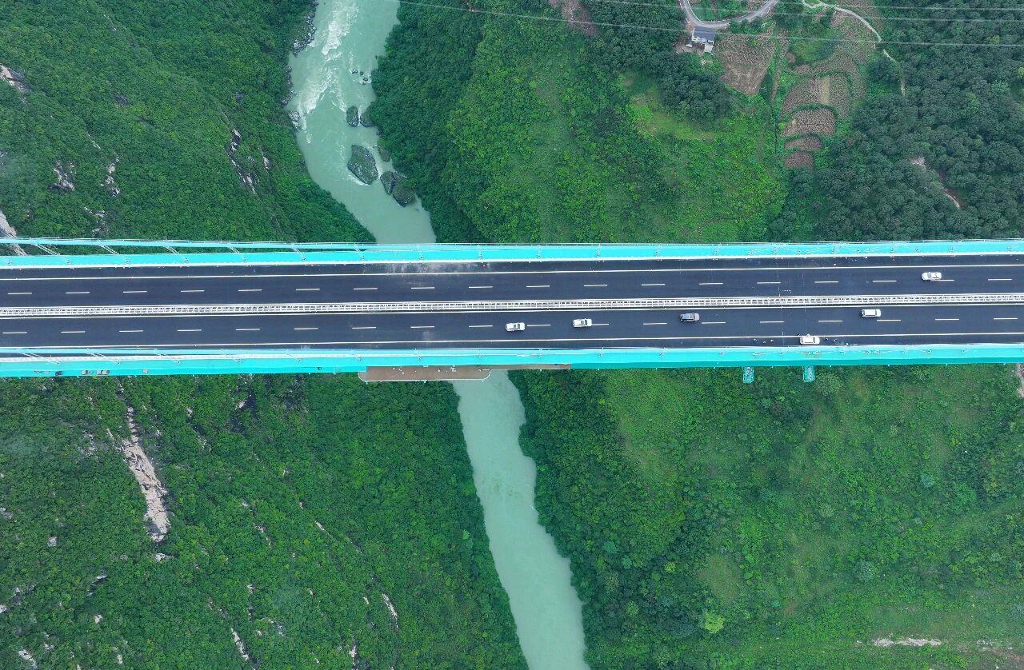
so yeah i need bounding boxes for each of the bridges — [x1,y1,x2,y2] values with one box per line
[0,239,1024,386]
